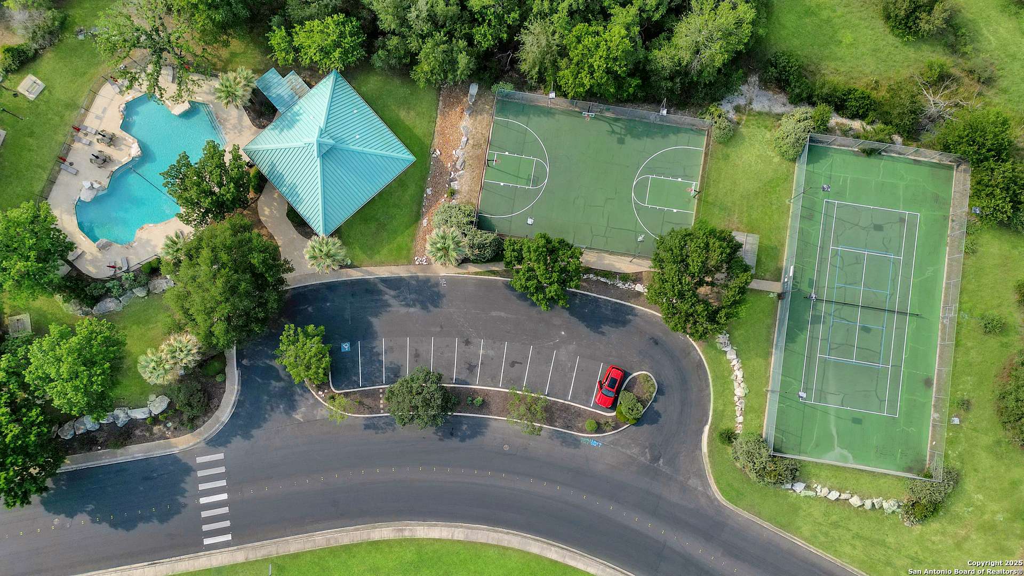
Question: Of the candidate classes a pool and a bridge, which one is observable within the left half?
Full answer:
Looking within the left half, you will find a pool.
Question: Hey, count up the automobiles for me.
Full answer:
There is 1 automobile in the image.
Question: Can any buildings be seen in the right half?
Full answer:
No, no building is visible in the right half.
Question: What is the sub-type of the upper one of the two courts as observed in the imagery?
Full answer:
The upper one of the two courts in the image is a basketball court.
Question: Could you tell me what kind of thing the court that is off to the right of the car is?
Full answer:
In the photo, the court that is off to the right of the car shows up as a tennis court.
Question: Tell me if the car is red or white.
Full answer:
The car is red.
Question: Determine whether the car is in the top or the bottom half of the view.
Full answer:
You can find the car in the bottom half.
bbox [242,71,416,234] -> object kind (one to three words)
building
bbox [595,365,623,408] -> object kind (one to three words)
car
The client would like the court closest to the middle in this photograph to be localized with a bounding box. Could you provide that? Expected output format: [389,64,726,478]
[477,100,706,260]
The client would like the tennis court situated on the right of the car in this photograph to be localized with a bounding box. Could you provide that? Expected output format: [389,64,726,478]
[762,144,953,475]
